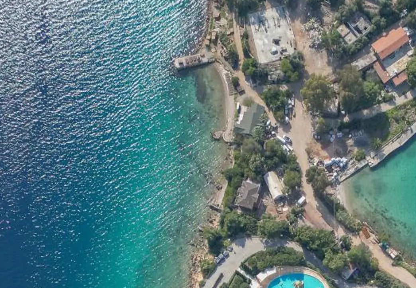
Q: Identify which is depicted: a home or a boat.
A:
home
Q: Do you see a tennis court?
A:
No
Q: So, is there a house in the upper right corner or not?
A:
Yes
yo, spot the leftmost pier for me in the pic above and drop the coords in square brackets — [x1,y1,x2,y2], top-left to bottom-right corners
[174,55,214,69]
